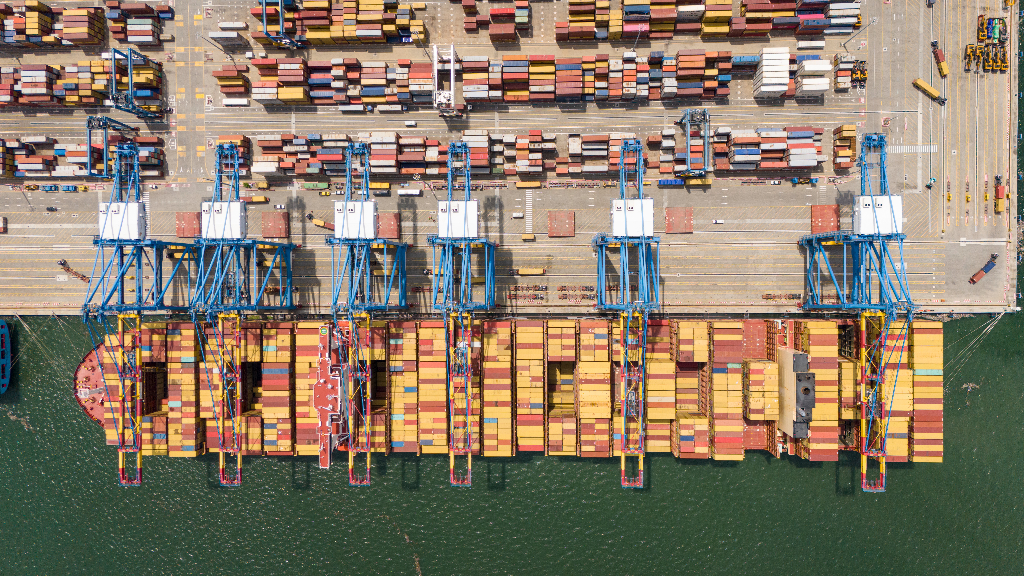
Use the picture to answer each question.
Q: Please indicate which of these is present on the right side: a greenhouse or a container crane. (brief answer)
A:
container crane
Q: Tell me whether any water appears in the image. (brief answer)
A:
Yes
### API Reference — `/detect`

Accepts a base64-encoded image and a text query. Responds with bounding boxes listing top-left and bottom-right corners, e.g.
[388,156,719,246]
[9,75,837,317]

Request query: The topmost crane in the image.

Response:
[260,0,304,51]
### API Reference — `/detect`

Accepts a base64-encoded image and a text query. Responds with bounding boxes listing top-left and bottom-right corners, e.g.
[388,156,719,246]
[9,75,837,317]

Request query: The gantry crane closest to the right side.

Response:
[798,132,917,496]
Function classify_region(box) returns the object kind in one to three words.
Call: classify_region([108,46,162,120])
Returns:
container crane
